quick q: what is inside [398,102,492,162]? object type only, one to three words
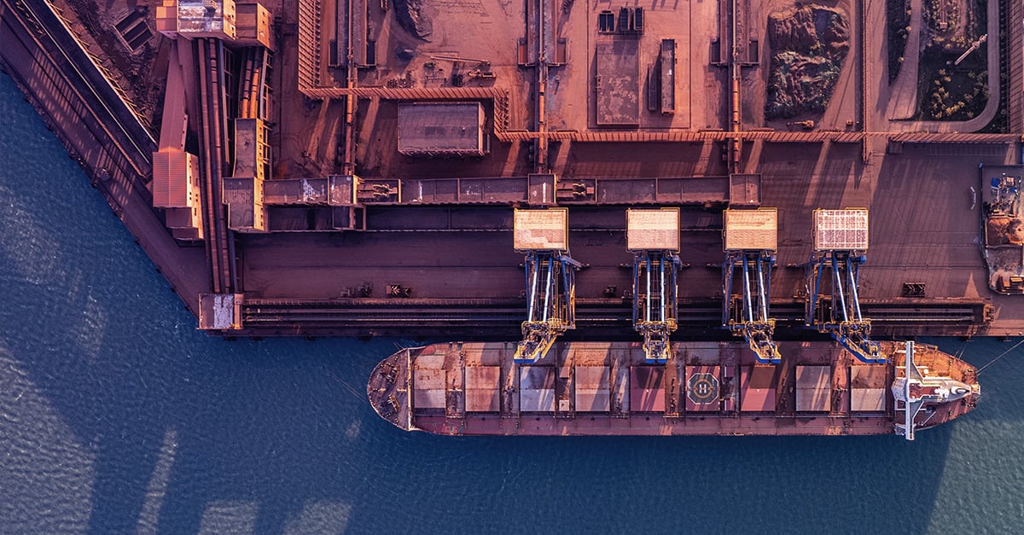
building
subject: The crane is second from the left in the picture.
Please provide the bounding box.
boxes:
[618,206,691,361]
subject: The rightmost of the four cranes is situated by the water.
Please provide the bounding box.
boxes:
[789,206,883,361]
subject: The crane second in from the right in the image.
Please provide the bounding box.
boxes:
[706,206,780,361]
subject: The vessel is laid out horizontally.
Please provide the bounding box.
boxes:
[365,342,980,440]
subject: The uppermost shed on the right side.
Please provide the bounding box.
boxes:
[661,38,675,115]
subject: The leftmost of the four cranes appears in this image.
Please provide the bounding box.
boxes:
[511,206,589,361]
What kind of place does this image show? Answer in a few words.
port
